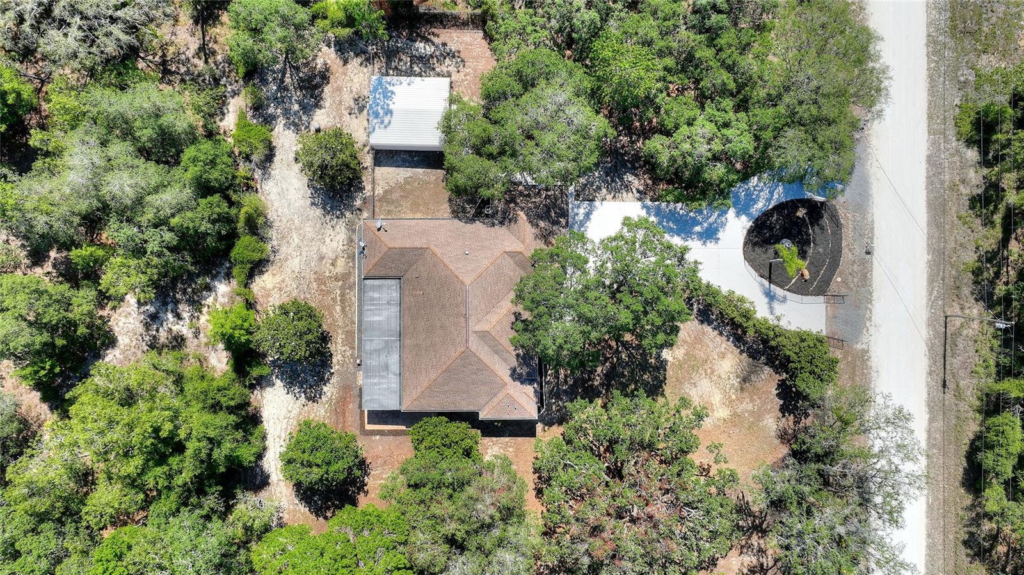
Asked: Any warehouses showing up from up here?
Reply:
No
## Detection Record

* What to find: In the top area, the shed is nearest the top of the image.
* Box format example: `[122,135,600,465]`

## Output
[369,77,451,148]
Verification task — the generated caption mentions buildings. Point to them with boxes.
[369,77,451,148]
[361,187,558,420]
